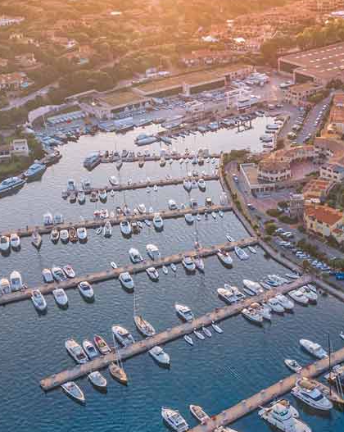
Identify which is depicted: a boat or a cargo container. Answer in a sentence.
The image shows a boat.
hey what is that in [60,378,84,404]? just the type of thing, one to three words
boat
